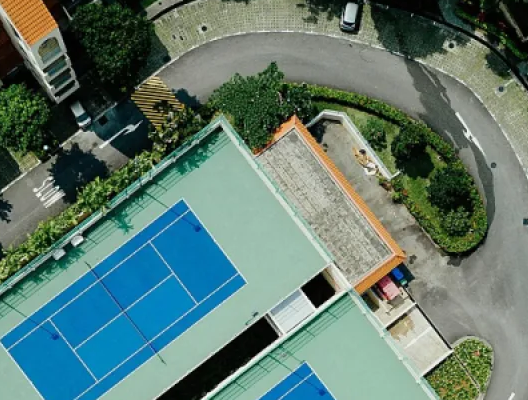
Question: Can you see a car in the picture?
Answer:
Yes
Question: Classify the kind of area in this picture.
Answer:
sports ground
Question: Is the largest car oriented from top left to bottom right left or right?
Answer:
left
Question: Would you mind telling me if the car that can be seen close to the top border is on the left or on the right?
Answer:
right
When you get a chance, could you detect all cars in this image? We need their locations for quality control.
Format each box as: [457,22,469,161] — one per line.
[67,94,97,134]
[338,0,363,35]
